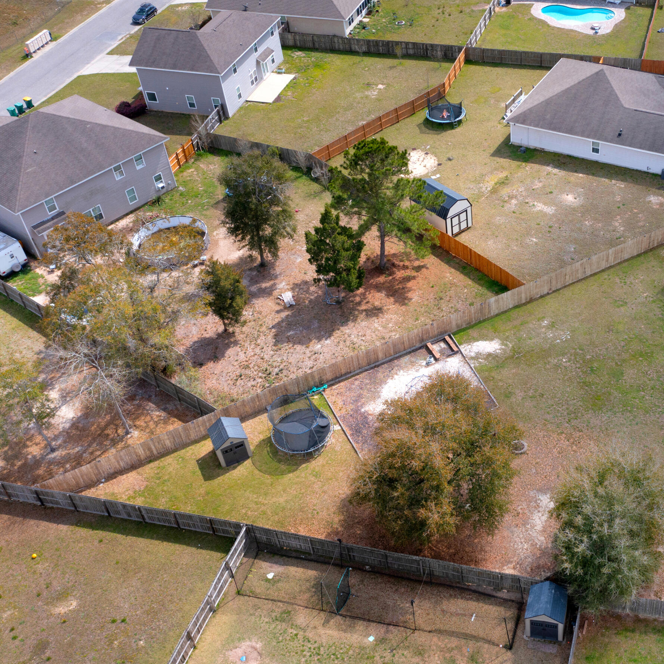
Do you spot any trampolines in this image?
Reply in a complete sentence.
Yes, a trampoline is visible in the scene.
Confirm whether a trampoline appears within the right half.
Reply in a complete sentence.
Yes, a trampoline is visible within the right half.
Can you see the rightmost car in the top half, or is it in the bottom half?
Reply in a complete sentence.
You can find the rightmost car in the top half.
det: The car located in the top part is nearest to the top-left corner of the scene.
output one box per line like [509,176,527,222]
[131,3,158,23]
